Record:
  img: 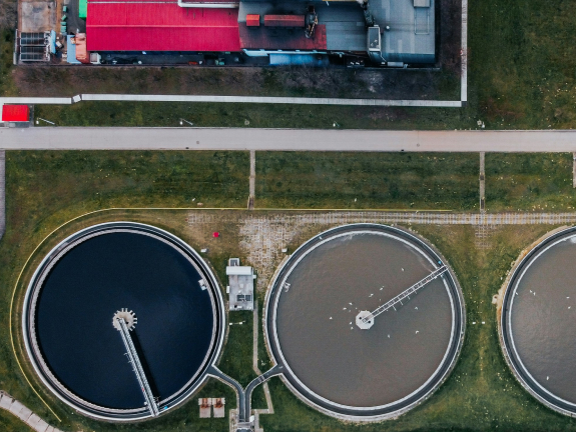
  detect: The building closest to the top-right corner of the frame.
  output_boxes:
[358,0,435,67]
